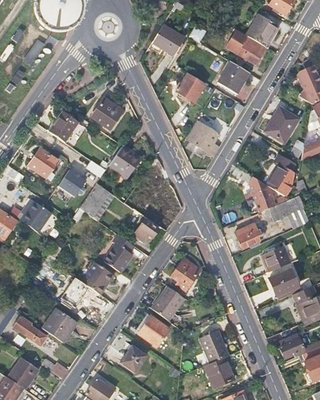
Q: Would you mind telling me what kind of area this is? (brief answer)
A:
residential area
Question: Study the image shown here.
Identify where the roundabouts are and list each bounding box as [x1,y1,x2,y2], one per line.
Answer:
[94,12,123,41]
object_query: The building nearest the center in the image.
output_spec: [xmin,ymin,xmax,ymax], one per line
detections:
[134,218,162,245]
